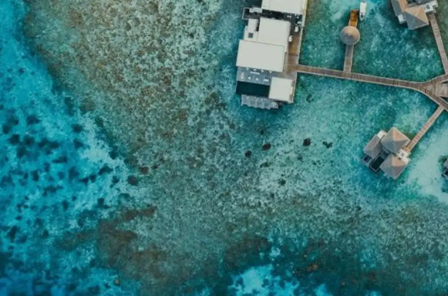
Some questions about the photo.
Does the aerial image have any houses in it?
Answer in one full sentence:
Yes, I can see a house in this picture.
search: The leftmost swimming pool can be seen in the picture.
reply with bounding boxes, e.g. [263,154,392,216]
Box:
[235,81,270,98]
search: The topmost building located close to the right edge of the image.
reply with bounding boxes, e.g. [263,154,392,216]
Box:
[391,0,440,33]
